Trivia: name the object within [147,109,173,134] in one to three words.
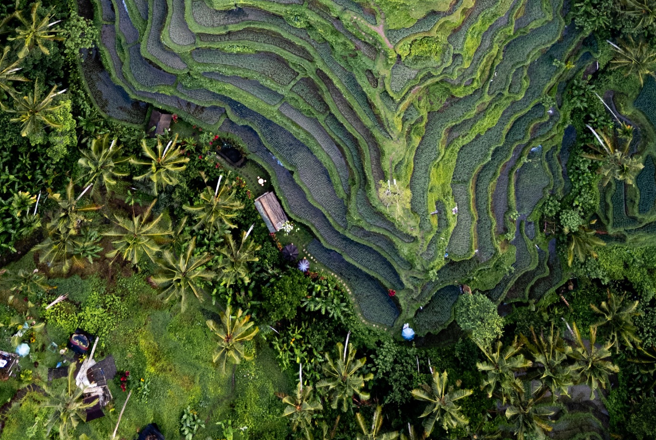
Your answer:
shed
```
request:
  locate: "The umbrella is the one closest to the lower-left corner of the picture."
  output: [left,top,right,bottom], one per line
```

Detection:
[17,342,31,356]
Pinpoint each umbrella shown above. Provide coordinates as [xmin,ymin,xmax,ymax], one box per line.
[297,259,309,270]
[401,326,414,339]
[17,342,31,356]
[283,243,298,260]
